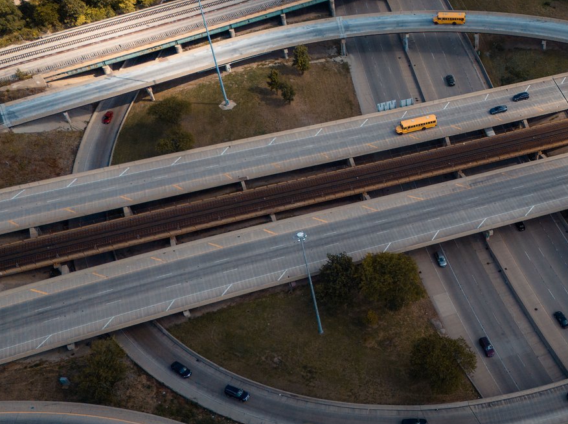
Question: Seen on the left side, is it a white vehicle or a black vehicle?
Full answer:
The one visible on the left side is a black vehicle.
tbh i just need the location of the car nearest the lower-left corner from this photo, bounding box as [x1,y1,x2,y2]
[170,361,191,377]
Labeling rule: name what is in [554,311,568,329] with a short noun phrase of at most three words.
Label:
car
